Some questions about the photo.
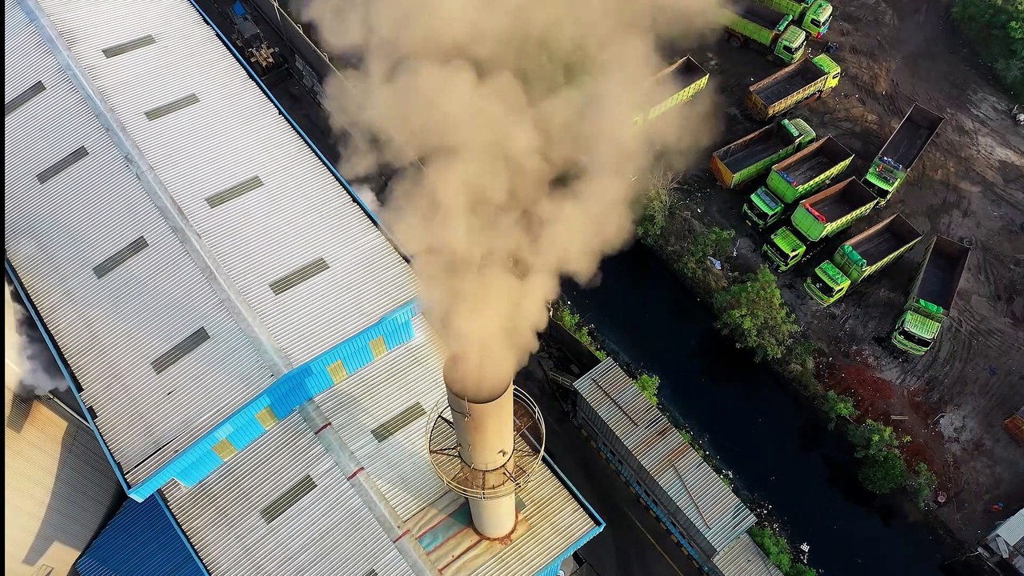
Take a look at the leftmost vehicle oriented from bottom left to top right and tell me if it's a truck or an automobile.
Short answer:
truck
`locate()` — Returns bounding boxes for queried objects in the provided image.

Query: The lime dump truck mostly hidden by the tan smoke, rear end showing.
[609,55,709,137]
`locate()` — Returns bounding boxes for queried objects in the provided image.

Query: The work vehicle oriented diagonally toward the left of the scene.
[227,9,296,84]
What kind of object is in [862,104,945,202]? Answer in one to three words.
truck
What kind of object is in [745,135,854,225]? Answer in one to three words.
truck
